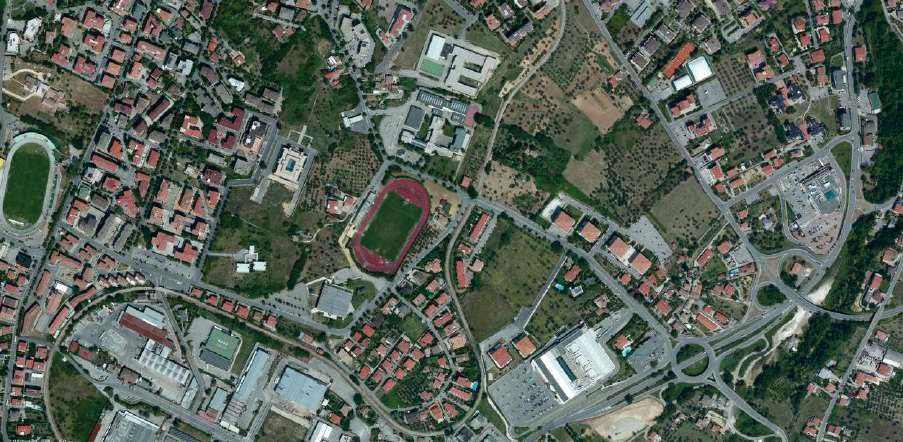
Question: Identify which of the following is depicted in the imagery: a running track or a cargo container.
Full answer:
This aerial view contains a running track.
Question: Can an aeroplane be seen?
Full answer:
No, I can see no aeroplane in this picture.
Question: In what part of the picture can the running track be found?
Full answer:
The running track is located in the center region of the scene.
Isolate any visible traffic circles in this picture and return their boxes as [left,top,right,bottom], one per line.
[672,338,715,382]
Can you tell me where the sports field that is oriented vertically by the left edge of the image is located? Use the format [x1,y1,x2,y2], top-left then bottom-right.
[4,144,50,228]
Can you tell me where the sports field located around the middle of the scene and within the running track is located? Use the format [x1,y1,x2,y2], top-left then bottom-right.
[363,192,422,262]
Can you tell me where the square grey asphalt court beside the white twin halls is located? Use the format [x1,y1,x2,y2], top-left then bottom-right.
[698,79,725,105]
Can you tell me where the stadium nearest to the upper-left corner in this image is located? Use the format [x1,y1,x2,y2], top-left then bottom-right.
[0,134,60,237]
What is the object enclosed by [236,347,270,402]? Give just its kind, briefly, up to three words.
building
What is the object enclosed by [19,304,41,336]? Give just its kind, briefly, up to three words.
building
